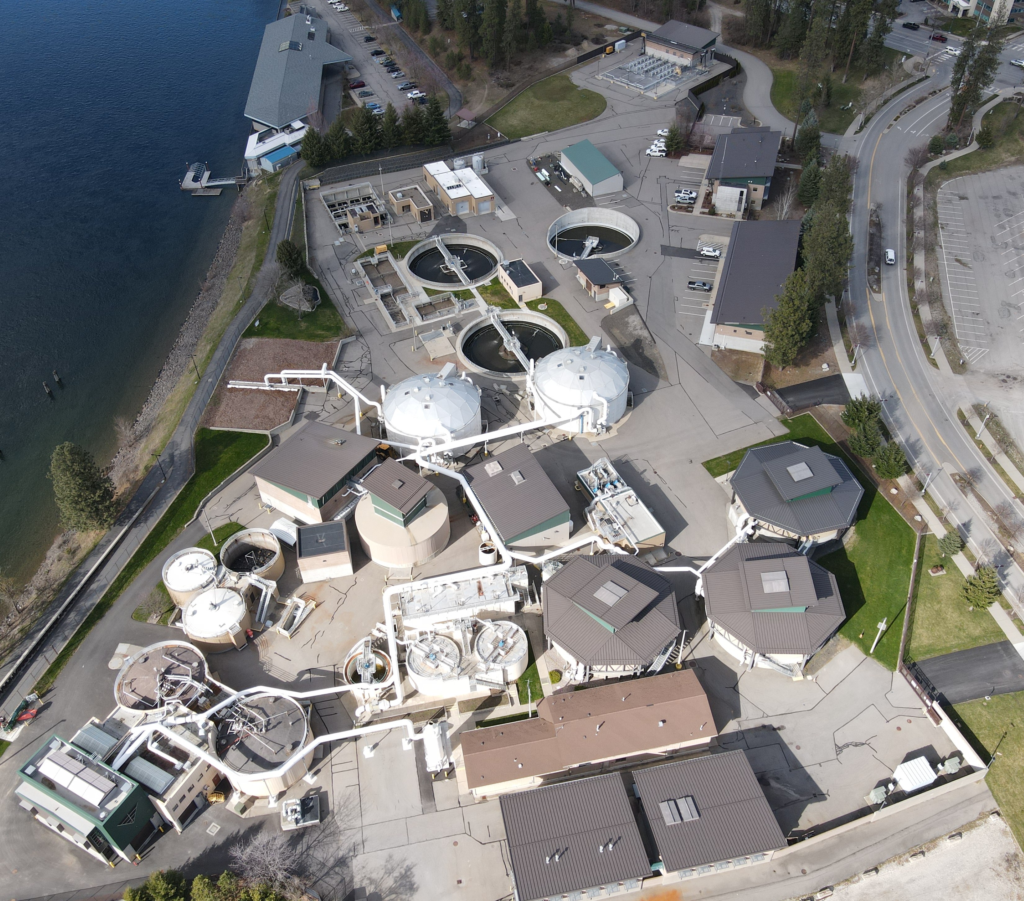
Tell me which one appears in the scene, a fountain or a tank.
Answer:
tank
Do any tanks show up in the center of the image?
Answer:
Yes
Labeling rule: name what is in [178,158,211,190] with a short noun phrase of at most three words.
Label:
pier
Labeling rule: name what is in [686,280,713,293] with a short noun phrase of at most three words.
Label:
vehicle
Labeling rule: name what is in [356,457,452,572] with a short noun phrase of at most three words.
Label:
storage tank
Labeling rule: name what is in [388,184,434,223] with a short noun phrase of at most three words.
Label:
house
